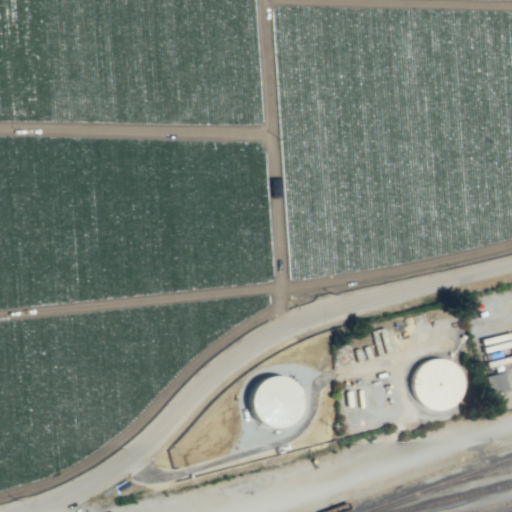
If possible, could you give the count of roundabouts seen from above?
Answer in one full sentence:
I count no roundabouts.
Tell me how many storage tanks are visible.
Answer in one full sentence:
I count 2 storage tanks.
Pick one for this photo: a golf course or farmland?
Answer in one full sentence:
It's farmland.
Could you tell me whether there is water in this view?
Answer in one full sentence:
No, no water is visible.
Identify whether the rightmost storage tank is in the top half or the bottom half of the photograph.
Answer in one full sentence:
Seen from above, the rightmost storage tank lies in the bottom half of the view.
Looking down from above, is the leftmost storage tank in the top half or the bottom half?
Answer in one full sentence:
Seen from above, the leftmost storage tank lies in the bottom half of the view.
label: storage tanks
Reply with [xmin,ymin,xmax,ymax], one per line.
[409,357,468,416]
[250,376,306,431]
